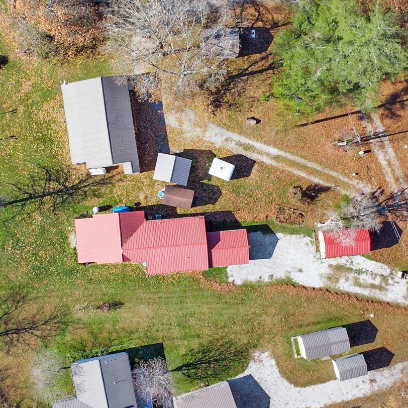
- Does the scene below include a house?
Yes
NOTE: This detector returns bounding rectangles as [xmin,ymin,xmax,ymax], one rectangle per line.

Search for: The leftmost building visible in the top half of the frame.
[61,76,140,174]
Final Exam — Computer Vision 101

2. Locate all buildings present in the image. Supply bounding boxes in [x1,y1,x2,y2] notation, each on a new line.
[74,211,250,275]
[162,185,194,209]
[332,352,368,382]
[153,153,192,186]
[61,76,140,174]
[199,28,240,61]
[208,158,235,181]
[177,381,236,408]
[296,326,350,360]
[52,352,138,408]
[319,229,371,258]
